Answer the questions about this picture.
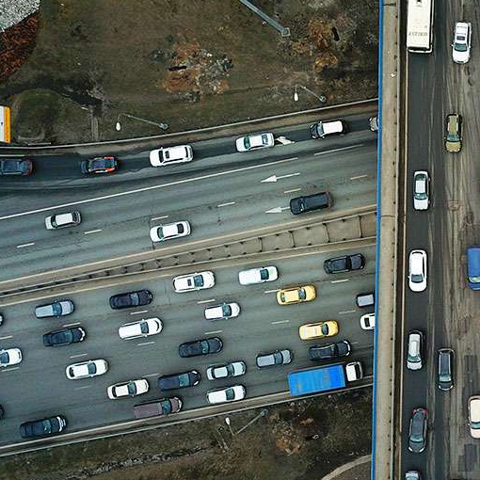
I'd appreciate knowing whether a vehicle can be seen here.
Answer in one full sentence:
Yes, the picture does show a vehicle.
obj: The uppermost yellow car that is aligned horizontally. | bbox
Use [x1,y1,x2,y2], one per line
[276,285,318,306]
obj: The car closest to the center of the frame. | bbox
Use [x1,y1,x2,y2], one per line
[239,265,279,286]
